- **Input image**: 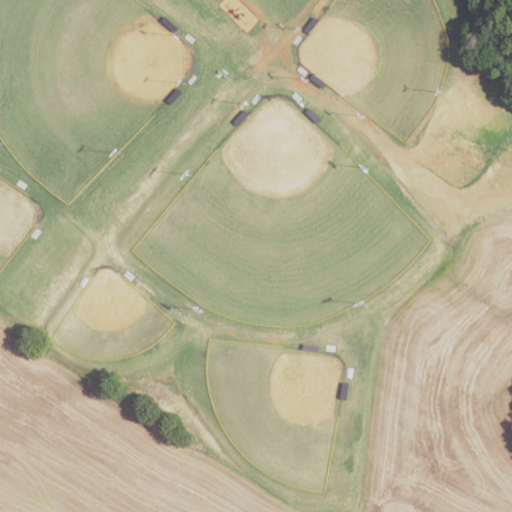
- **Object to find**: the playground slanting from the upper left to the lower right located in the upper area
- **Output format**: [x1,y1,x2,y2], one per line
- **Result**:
[219,0,259,32]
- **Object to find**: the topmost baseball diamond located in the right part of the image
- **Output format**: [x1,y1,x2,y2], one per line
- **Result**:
[298,0,447,140]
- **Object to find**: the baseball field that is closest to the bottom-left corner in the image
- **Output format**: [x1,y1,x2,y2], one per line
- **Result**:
[52,266,174,360]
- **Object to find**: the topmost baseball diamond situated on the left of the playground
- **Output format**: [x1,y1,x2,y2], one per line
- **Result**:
[0,0,192,203]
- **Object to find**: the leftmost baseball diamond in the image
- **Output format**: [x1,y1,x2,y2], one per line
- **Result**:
[0,179,43,266]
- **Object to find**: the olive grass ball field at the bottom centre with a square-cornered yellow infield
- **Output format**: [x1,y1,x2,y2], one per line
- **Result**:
[208,340,344,490]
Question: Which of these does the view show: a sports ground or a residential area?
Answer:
sports ground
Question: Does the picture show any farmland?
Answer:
Yes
